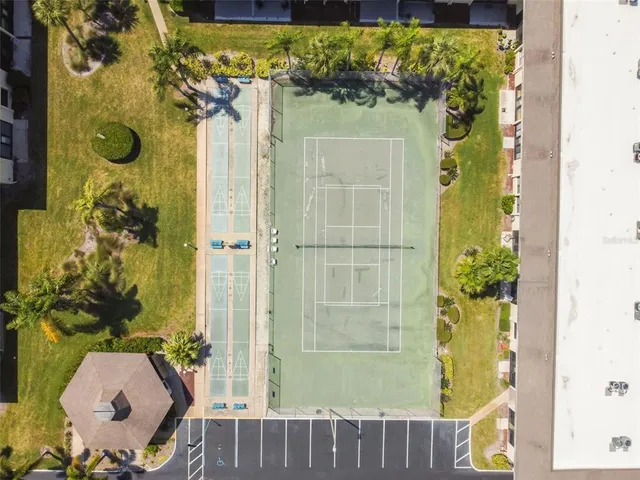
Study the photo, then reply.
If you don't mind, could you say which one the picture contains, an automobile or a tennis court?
tennis court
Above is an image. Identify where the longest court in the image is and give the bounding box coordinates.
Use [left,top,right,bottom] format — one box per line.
[267,79,441,418]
